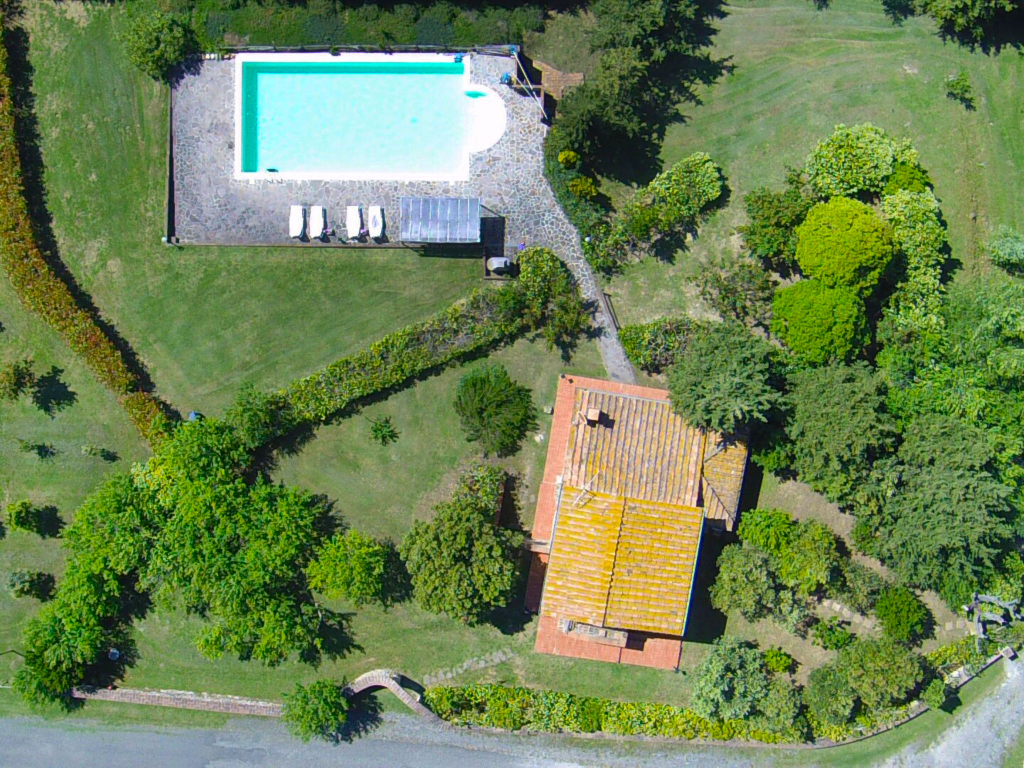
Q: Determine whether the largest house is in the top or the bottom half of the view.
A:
bottom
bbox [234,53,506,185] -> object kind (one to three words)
swimming pool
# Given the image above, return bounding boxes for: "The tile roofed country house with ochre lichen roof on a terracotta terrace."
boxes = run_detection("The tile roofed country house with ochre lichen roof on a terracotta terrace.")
[538,387,754,636]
